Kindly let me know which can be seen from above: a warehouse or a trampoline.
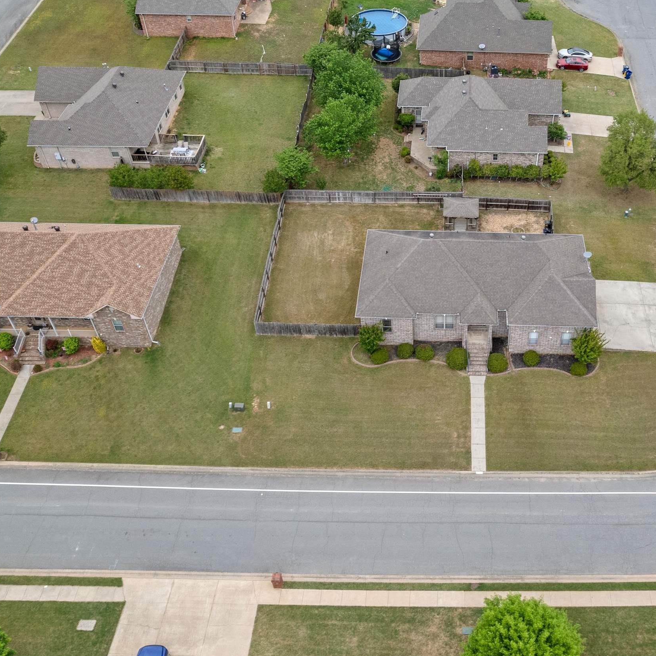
trampoline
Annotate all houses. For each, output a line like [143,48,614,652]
[26,65,191,169]
[397,75,562,172]
[0,216,189,364]
[135,0,272,39]
[417,0,553,71]
[354,230,599,375]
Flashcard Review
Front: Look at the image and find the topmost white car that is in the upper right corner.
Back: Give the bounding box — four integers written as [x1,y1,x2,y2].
[558,47,593,62]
